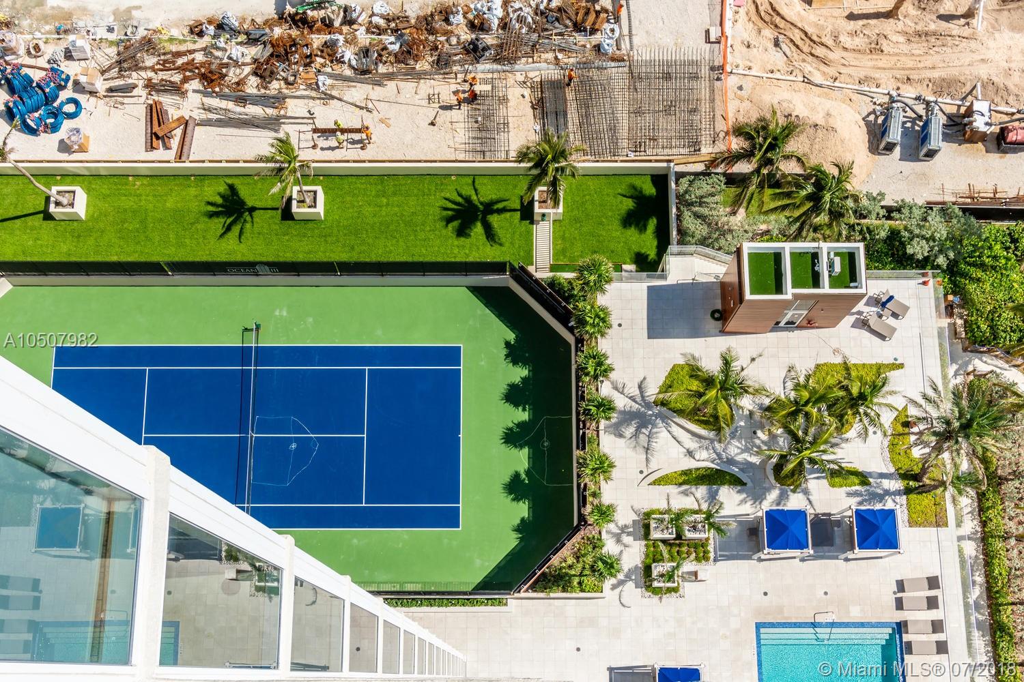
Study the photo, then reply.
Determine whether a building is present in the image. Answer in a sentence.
Yes, you can see a building in this photo.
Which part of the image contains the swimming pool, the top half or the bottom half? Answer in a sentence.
Seen from above, the swimming pool lies in the bottom half of the view.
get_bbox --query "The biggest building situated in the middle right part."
[718,243,866,333]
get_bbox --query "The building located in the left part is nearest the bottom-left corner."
[0,359,465,677]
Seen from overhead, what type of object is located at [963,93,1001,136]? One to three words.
storage tank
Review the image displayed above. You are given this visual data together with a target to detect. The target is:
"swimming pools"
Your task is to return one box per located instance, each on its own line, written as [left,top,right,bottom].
[750,617,912,682]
